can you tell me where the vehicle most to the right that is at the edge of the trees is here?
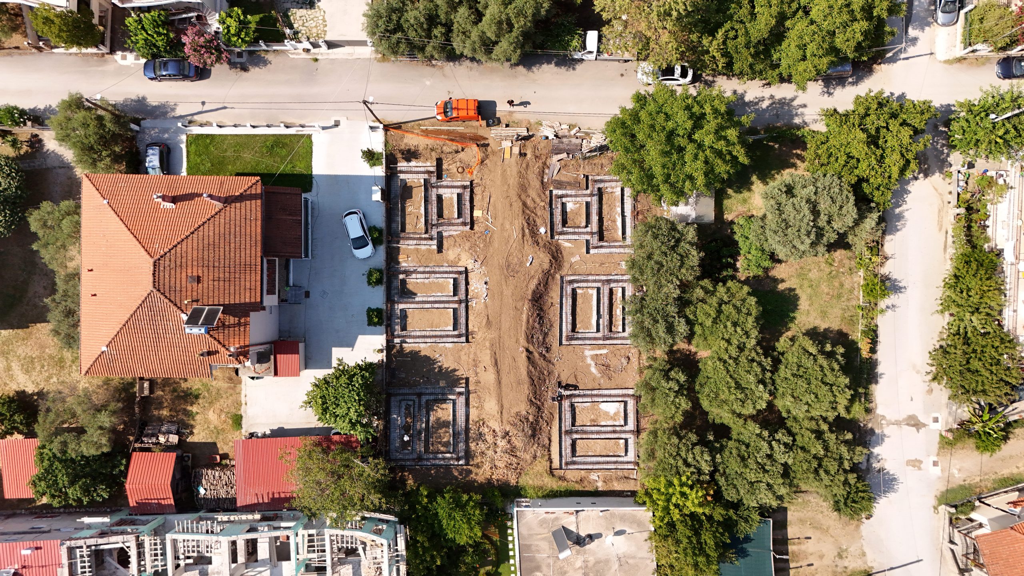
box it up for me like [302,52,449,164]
[992,53,1024,81]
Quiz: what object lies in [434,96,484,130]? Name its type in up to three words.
van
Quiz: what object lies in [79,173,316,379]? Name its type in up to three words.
house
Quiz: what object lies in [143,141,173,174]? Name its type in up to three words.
car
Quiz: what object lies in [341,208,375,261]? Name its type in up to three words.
car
